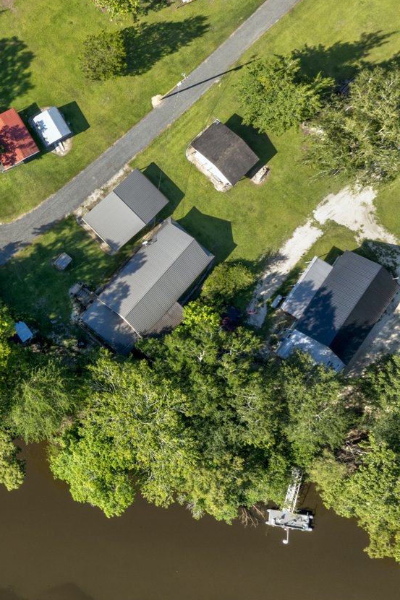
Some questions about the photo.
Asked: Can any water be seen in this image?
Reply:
Yes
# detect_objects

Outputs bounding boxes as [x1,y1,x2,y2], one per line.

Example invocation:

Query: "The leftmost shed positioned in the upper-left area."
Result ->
[0,107,38,171]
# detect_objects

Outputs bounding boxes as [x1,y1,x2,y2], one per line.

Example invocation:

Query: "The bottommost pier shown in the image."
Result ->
[263,509,314,542]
